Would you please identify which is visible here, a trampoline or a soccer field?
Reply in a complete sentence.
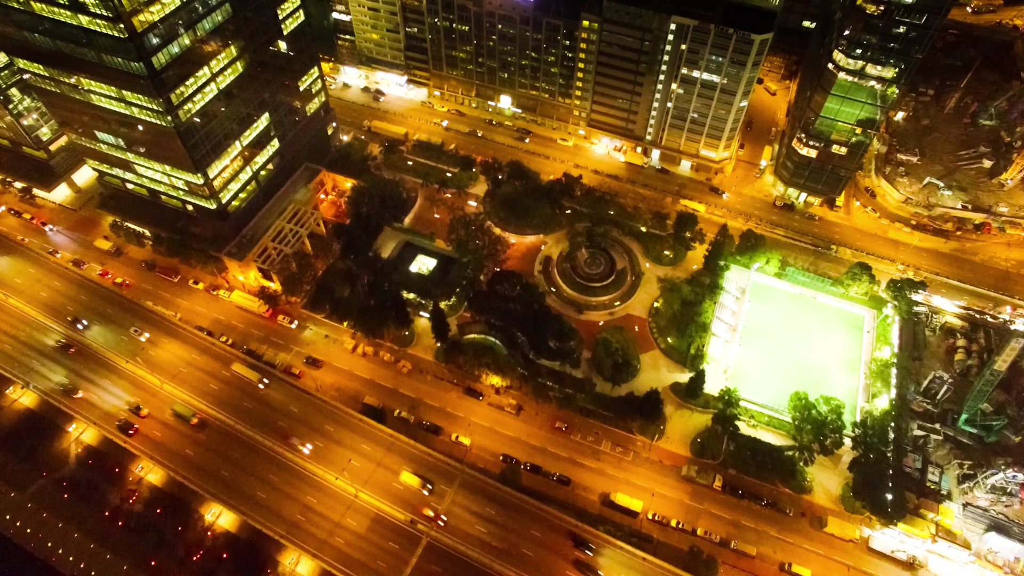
There is a soccer field in the scene.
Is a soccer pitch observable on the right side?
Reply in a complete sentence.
Yes, a soccer pitch can be seen on the right side.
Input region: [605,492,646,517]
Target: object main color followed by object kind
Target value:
yellow truck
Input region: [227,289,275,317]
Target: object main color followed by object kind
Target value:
yellow truck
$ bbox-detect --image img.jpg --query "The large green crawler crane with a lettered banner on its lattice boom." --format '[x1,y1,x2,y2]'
[943,322,1024,453]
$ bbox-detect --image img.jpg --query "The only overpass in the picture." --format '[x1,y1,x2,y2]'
[0,230,702,576]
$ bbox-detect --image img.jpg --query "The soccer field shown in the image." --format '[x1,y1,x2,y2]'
[727,280,866,443]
